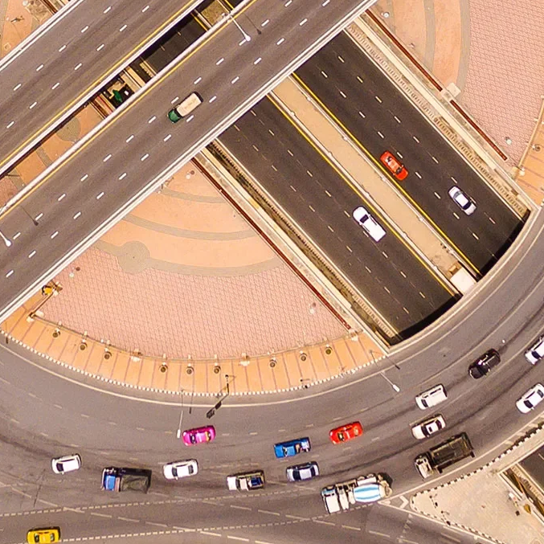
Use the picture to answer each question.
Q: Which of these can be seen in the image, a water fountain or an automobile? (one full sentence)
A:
Visible in the photo is an automobile.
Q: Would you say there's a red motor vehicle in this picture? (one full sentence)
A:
Yes, the picture does show a red motor vehicle.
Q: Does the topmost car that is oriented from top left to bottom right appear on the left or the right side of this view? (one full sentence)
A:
It is on the right.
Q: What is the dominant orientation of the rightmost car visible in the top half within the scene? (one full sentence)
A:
In this picture, the rightmost car visible in the top half lies diagonally.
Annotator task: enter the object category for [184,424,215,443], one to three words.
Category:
car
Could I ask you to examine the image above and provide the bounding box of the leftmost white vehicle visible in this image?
[51,453,81,472]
